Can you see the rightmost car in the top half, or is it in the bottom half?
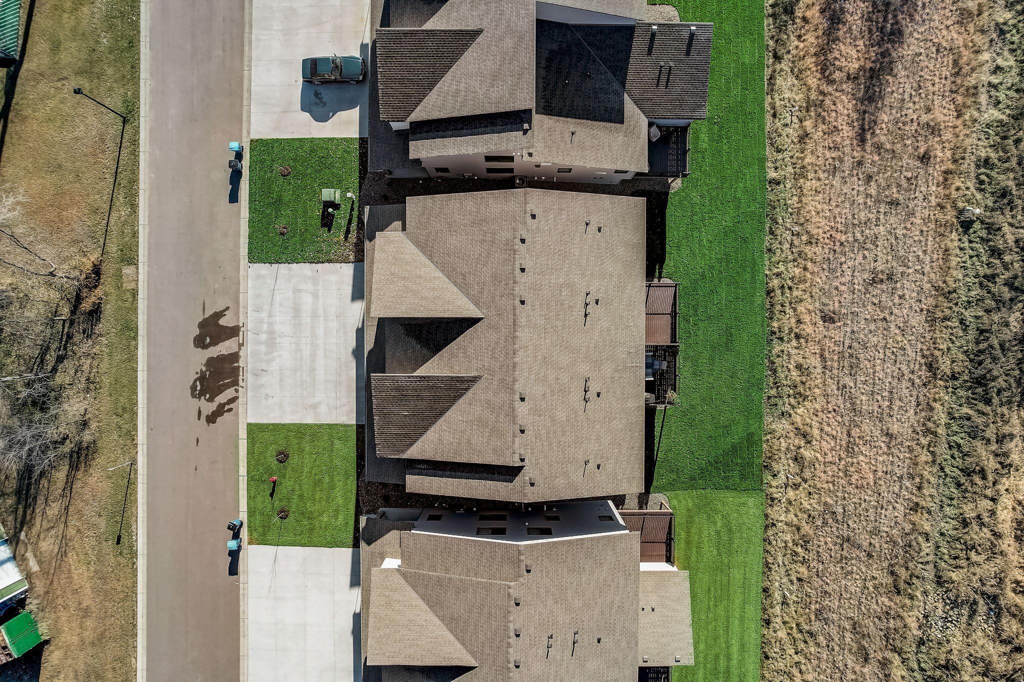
top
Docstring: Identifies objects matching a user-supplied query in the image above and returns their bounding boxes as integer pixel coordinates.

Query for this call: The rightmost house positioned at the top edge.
[368,0,714,188]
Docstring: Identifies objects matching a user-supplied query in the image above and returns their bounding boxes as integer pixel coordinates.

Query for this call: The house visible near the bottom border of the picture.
[361,502,697,682]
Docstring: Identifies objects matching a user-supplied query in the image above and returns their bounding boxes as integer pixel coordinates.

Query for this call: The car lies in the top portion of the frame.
[300,52,365,84]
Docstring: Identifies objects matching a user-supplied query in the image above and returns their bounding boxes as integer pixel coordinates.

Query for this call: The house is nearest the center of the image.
[365,188,683,503]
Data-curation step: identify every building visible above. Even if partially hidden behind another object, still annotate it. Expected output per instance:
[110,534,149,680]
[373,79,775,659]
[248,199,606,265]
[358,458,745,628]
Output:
[365,188,683,503]
[0,0,27,56]
[361,502,697,682]
[368,0,714,188]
